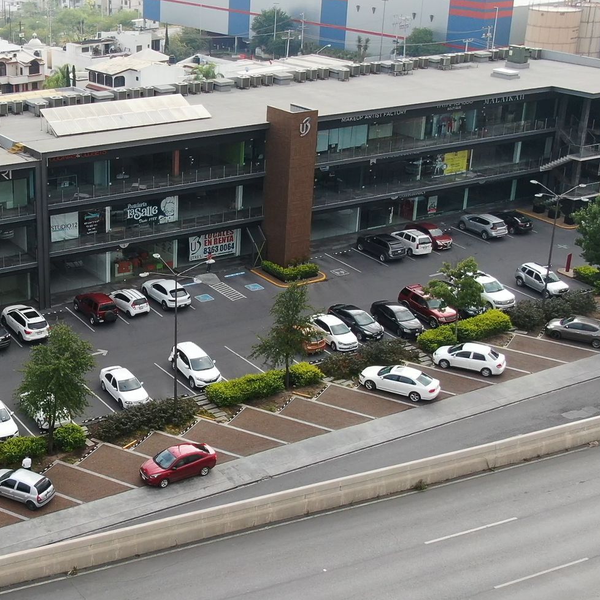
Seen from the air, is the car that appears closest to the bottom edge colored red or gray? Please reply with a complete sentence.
From above, the car that appears closest to the bottom edge appears gray.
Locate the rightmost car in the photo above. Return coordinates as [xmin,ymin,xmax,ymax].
[541,311,600,346]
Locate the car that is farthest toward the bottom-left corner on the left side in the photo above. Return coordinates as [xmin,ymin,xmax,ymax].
[0,462,61,507]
